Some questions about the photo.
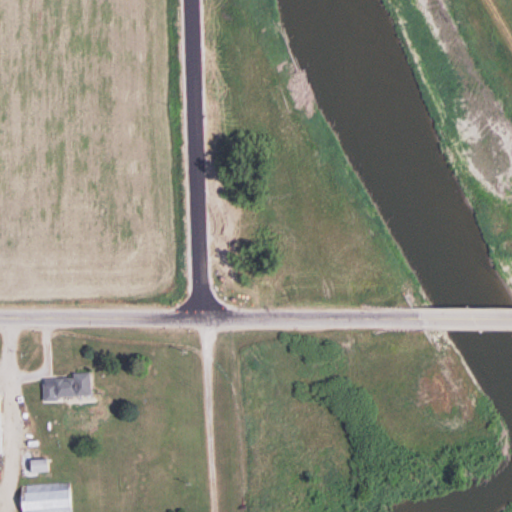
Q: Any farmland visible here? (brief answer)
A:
Yes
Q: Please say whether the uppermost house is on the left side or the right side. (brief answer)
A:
left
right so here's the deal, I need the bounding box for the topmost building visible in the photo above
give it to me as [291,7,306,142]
[42,372,98,409]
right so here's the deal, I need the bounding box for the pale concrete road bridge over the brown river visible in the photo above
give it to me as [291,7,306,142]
[418,306,512,334]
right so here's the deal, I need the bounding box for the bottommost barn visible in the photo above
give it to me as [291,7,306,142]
[20,484,70,512]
